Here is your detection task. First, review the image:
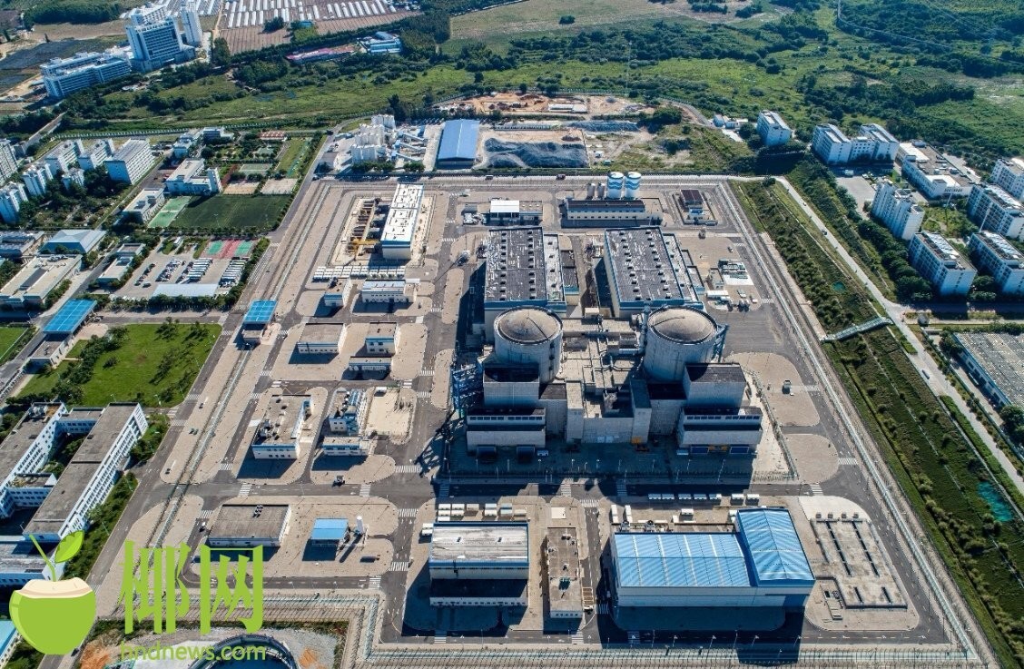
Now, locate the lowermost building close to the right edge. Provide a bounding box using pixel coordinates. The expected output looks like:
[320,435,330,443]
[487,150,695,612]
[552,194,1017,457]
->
[950,333,1024,432]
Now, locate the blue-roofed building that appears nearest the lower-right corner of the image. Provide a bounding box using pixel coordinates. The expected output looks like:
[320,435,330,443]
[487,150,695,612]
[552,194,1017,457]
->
[731,509,815,606]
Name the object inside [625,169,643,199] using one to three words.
water tank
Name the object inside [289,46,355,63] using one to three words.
shed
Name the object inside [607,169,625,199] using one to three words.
water tank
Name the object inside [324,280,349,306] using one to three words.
building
